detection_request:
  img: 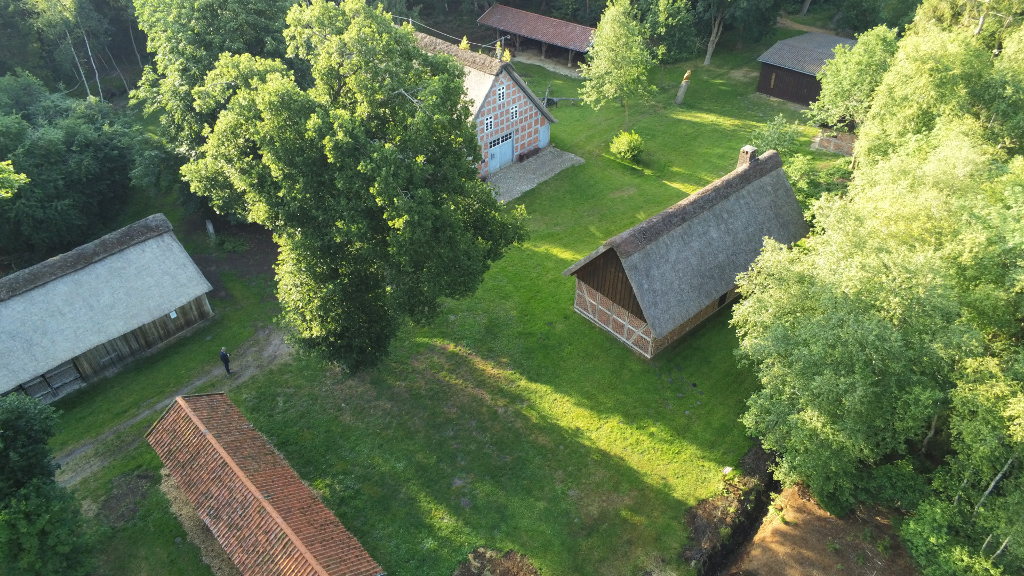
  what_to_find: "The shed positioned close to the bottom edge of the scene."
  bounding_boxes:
[143,391,391,576]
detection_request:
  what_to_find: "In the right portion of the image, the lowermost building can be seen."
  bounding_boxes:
[561,149,809,360]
